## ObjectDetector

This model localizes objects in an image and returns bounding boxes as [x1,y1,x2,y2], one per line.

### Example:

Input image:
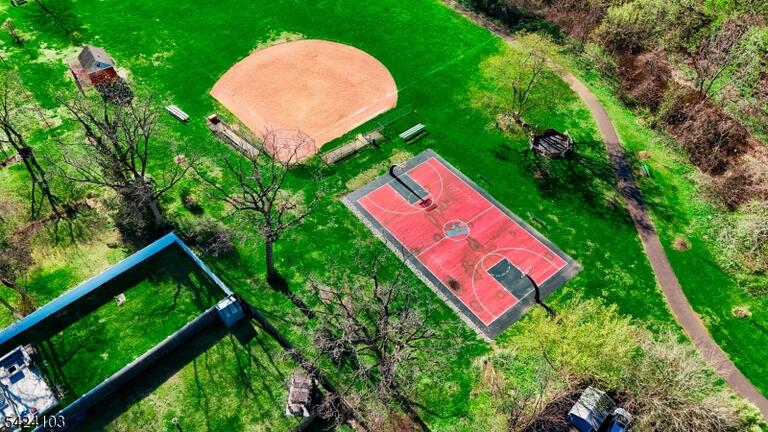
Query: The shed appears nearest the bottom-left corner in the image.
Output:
[214,291,246,326]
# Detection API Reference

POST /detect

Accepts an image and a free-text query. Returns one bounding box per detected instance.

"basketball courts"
[343,150,582,342]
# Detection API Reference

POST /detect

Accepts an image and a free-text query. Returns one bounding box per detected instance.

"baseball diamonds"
[196,39,488,165]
